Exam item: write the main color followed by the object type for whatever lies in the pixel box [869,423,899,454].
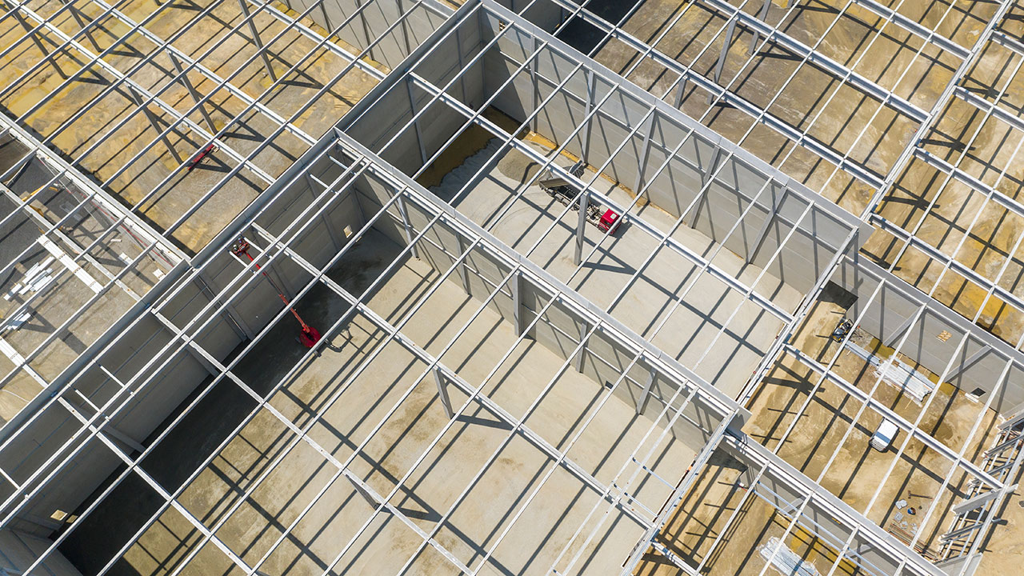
white van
